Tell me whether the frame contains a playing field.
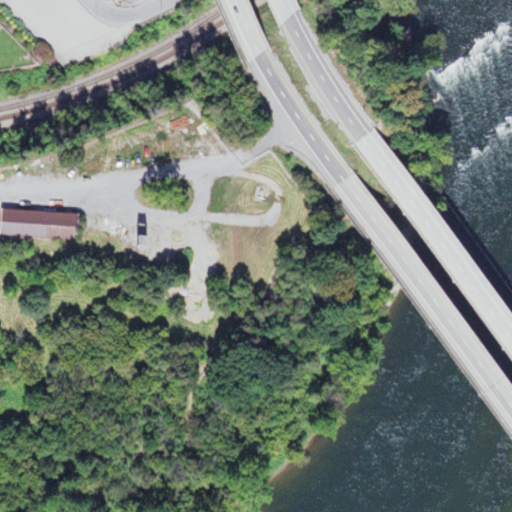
No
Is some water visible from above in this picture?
Yes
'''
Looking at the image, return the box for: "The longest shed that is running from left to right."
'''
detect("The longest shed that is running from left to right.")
[1,208,78,240]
